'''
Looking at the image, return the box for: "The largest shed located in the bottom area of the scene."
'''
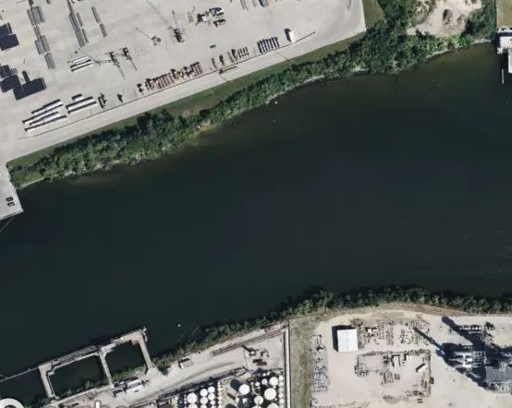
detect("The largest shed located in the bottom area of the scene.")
[336,329,357,352]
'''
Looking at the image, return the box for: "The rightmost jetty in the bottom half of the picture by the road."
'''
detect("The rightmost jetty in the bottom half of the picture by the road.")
[38,327,153,398]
